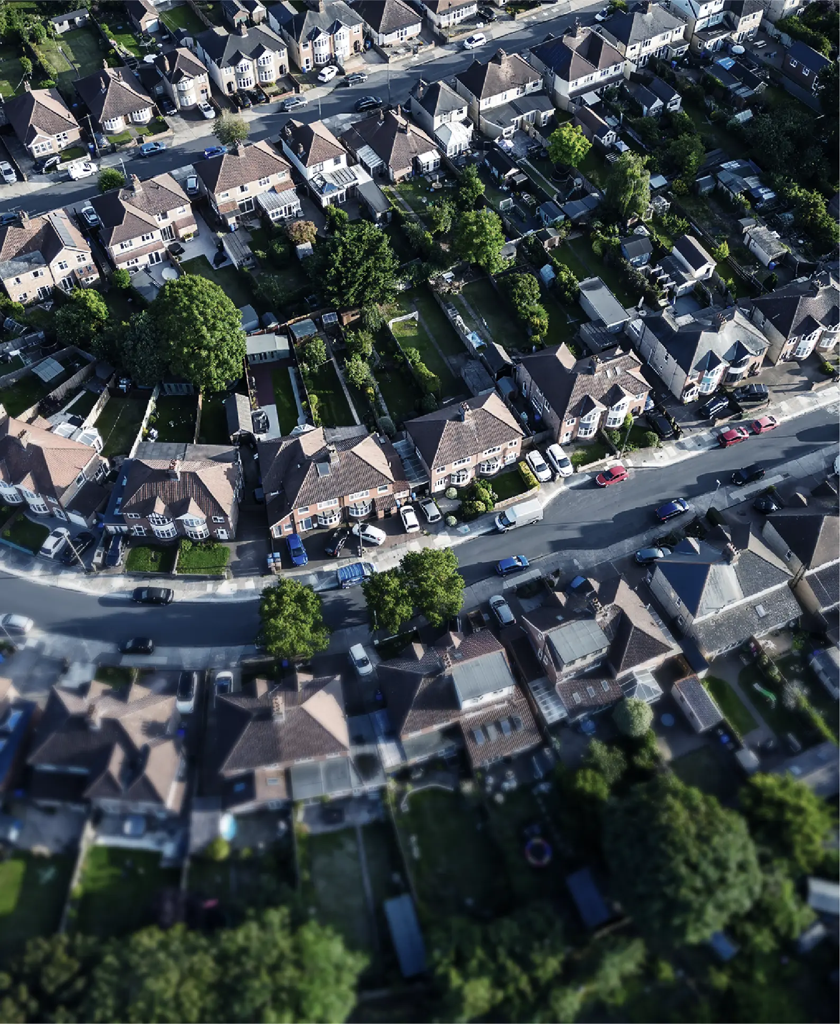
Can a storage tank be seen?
No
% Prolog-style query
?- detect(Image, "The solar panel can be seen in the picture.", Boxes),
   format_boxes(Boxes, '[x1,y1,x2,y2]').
[545,39,576,69]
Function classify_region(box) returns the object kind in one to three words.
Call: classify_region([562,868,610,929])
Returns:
shed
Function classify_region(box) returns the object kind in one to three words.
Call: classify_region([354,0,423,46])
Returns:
house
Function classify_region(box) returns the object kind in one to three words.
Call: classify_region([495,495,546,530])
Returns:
van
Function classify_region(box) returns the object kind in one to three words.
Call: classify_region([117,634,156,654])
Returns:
car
